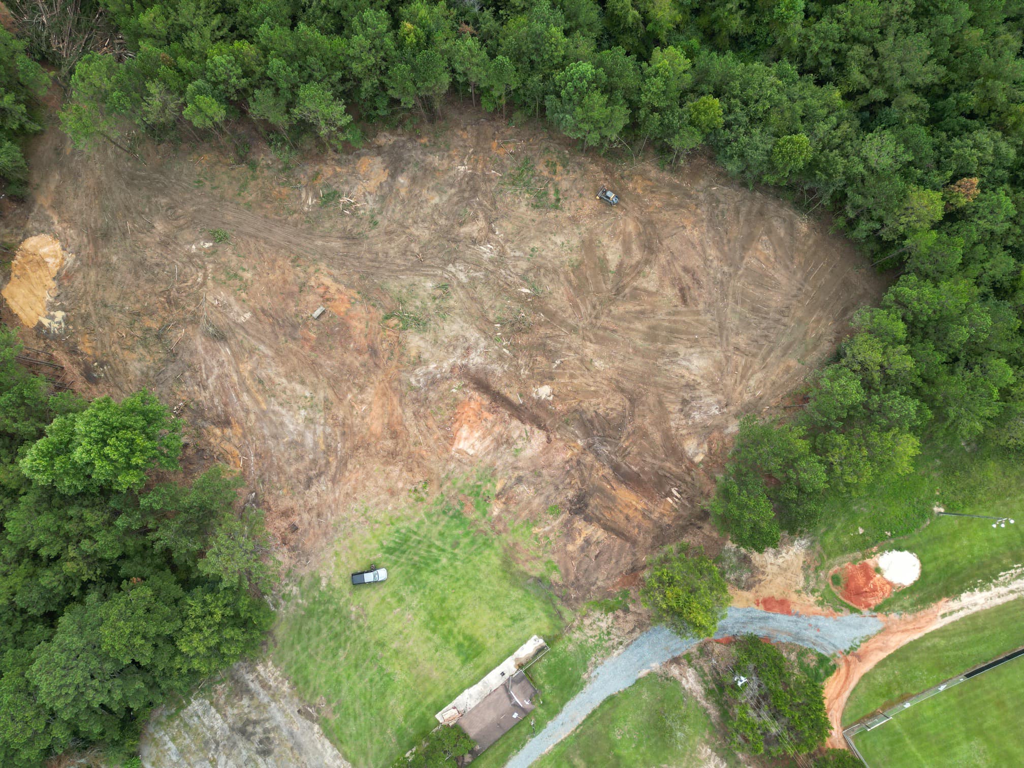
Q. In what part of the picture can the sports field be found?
bottom right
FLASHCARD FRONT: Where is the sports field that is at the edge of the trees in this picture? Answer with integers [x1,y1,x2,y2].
[815,428,1024,768]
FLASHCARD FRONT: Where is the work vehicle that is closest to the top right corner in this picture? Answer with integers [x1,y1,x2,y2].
[595,186,619,205]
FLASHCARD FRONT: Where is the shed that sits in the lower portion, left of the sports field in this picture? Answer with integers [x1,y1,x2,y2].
[459,665,537,753]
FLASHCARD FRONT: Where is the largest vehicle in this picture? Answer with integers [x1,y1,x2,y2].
[351,568,388,586]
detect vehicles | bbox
[595,186,619,205]
[351,568,388,586]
